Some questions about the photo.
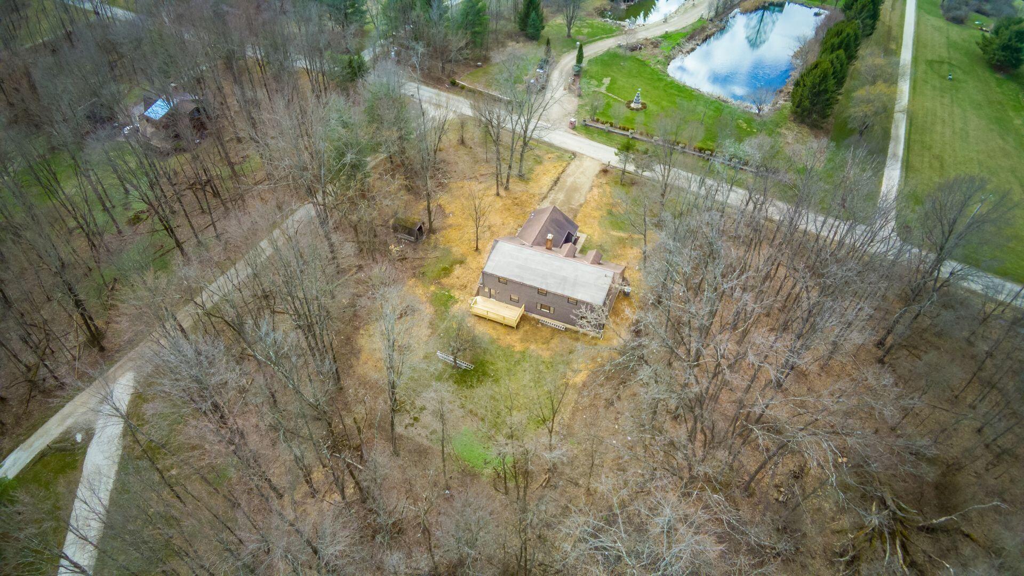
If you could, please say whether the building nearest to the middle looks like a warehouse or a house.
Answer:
house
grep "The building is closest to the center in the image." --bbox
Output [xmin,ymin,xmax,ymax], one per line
[470,204,630,338]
